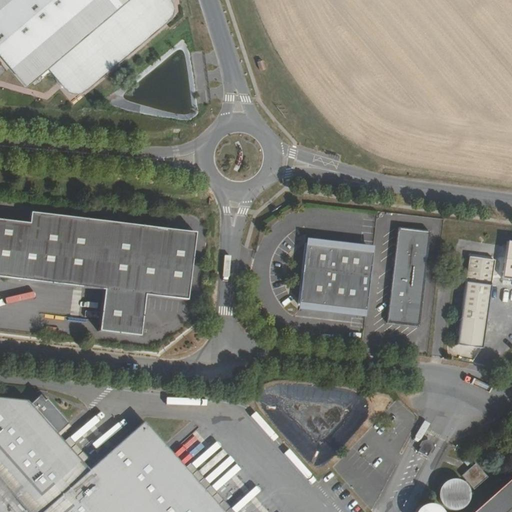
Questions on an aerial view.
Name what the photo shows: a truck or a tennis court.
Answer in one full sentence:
The one in the frame is a truck.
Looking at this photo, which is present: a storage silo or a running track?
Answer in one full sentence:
There is a storage silo in the scene.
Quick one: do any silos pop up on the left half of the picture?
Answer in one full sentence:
No, there's no silo to be seen on the left half of the picture.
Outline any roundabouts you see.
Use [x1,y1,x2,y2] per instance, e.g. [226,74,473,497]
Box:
[196,114,282,200]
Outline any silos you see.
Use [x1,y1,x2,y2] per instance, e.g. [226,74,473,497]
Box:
[416,499,450,512]
[438,476,472,510]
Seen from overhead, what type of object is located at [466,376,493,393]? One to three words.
vehicle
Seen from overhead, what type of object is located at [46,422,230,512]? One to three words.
building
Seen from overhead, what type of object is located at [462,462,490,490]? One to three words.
building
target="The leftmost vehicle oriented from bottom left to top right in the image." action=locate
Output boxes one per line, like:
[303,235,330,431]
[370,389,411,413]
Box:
[70,410,106,441]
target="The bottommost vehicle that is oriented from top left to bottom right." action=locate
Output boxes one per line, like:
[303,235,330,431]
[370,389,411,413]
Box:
[284,448,316,484]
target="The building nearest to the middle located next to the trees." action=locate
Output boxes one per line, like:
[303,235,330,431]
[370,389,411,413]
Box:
[300,238,376,316]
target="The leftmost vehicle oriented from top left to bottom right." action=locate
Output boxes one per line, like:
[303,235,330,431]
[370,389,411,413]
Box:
[250,410,281,442]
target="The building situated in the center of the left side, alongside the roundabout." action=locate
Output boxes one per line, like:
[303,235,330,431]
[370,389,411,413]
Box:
[0,210,198,336]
